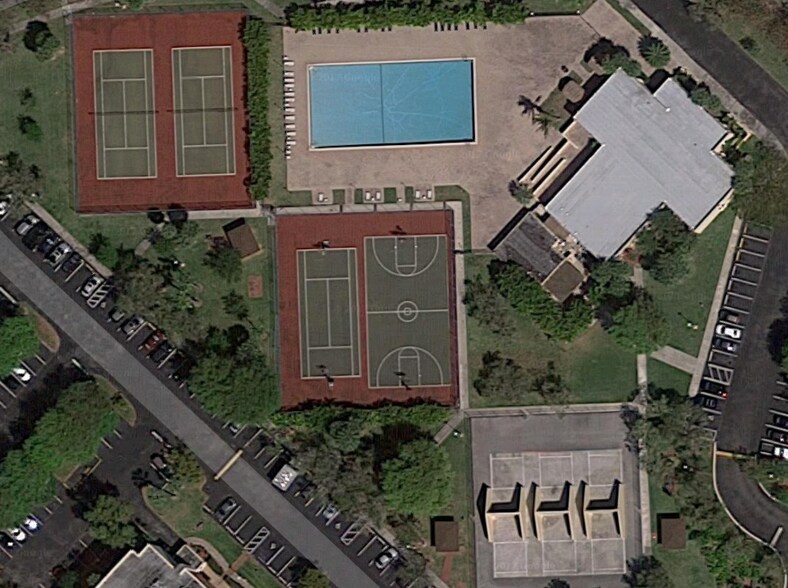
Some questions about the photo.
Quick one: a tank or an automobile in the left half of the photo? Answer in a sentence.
There is an automobile in the left half of the photo.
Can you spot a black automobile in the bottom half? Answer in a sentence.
Yes, you'll find a black automobile in the bottom half.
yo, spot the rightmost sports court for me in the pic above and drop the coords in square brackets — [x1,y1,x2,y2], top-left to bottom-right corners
[583,449,625,575]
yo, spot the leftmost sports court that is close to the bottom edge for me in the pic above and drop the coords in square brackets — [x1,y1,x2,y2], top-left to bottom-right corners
[486,453,527,577]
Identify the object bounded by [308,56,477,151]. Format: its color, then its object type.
blue swimming pool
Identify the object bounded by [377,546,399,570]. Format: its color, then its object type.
gray car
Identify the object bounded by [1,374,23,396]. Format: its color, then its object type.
black car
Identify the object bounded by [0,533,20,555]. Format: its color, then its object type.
black car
